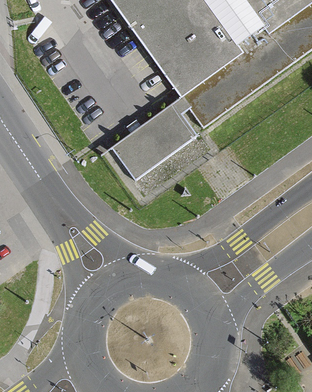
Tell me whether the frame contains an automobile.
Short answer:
Yes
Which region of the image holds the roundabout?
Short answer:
bottom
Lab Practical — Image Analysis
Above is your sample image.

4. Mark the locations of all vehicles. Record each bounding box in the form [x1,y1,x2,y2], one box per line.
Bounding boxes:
[48,59,68,76]
[0,246,12,260]
[88,2,109,20]
[77,96,99,114]
[35,36,59,56]
[141,73,163,92]
[62,78,83,95]
[27,12,52,44]
[116,39,138,58]
[42,48,62,66]
[28,0,42,12]
[108,30,130,48]
[84,106,106,124]
[100,22,123,40]
[130,254,157,275]
[94,12,116,30]
[80,0,99,9]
